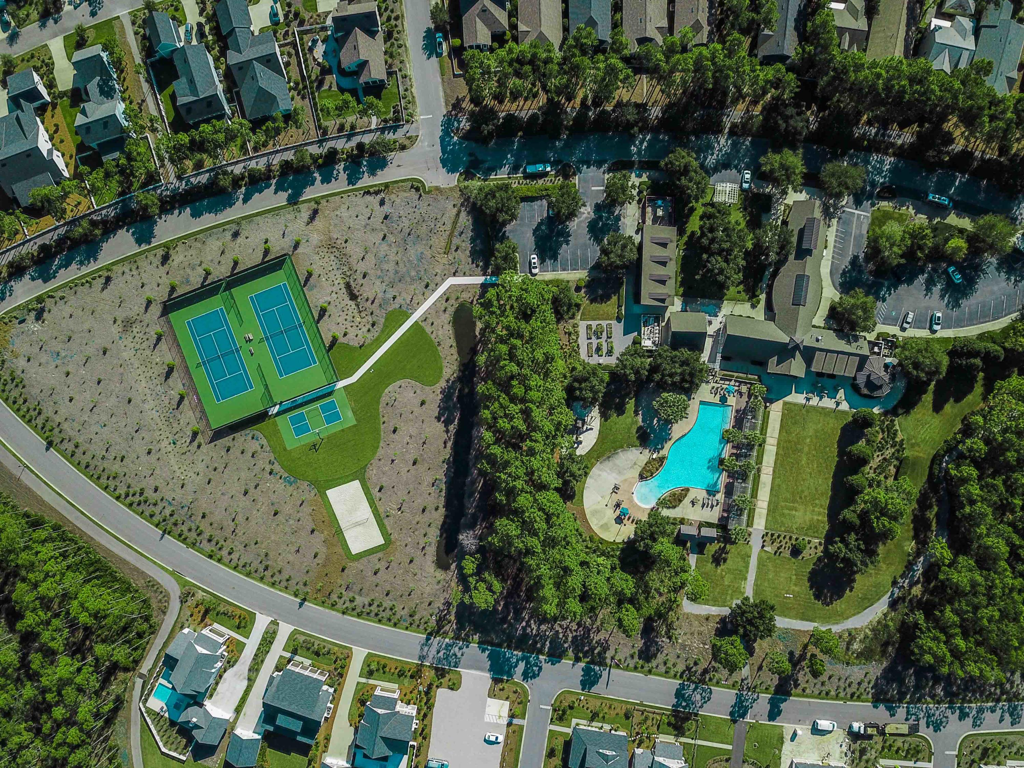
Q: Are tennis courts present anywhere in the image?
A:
Yes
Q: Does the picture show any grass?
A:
Yes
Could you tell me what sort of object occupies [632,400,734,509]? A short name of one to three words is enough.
swimming pool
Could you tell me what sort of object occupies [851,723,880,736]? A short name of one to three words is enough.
vehicle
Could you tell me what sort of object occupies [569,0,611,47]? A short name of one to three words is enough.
house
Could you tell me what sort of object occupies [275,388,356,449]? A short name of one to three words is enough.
sports court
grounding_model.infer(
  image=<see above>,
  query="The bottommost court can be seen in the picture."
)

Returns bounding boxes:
[326,480,384,554]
